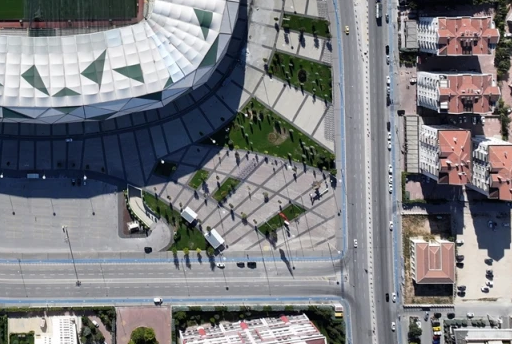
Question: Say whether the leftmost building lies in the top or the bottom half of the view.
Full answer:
It is in the bottom half that the leftmost building appears.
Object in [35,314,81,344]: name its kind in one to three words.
building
